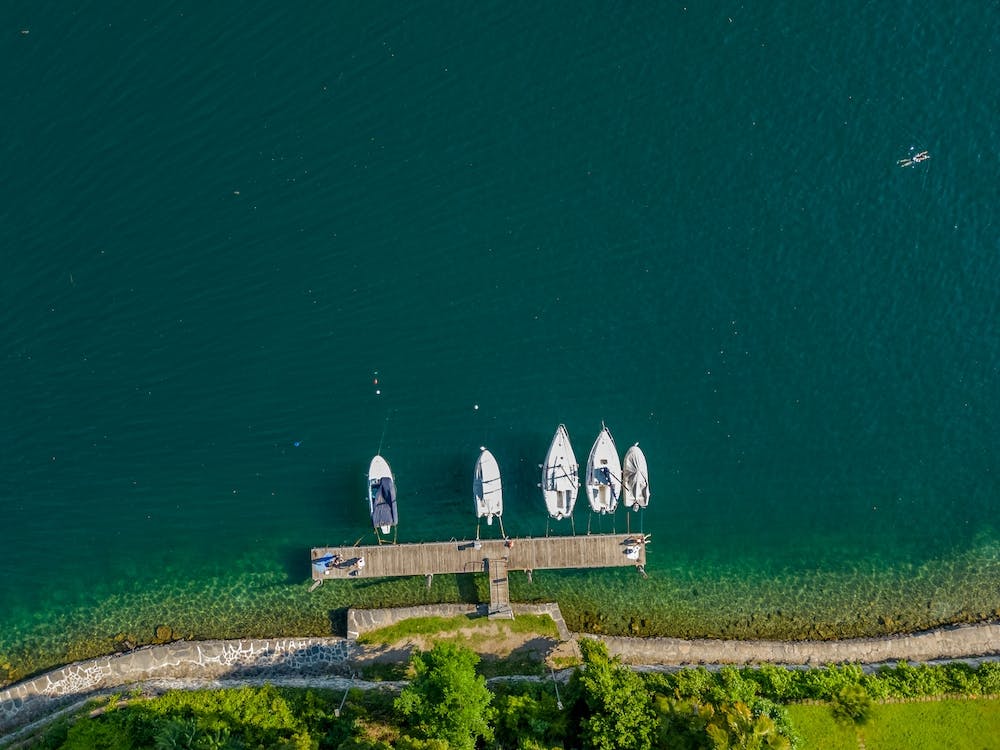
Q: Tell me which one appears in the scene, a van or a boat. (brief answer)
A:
boat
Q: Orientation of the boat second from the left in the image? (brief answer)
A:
up and down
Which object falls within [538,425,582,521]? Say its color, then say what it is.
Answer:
white boat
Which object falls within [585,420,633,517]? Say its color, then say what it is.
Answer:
white boat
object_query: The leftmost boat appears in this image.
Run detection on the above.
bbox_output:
[365,456,400,537]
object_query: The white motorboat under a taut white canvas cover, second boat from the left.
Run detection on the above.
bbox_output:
[473,444,501,525]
